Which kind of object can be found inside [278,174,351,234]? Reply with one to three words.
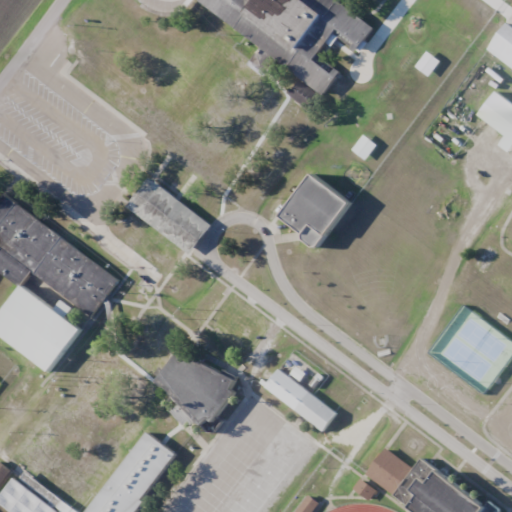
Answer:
building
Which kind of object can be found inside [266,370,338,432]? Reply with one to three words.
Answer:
building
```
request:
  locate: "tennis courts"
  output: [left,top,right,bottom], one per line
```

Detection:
[430,306,512,394]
